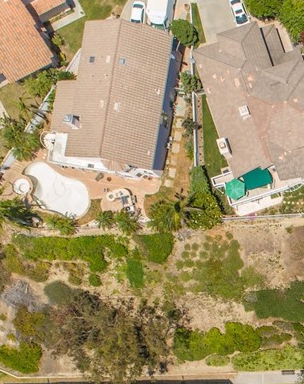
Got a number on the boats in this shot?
0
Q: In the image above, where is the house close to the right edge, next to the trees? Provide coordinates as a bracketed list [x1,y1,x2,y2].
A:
[193,21,304,210]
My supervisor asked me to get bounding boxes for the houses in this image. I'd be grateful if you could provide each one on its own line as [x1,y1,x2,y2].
[193,21,304,210]
[44,18,183,179]
[0,0,73,84]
